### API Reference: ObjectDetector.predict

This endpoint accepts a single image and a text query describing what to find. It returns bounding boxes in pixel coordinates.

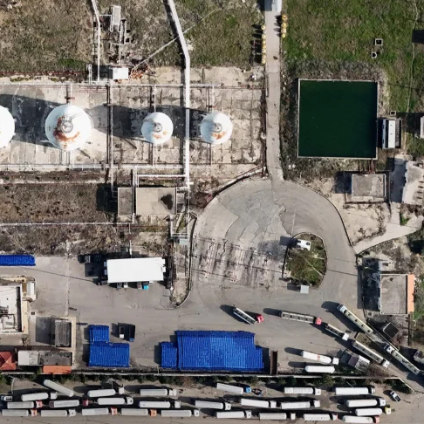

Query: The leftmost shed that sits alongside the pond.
[348,173,386,196]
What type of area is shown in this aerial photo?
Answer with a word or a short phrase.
industrial area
